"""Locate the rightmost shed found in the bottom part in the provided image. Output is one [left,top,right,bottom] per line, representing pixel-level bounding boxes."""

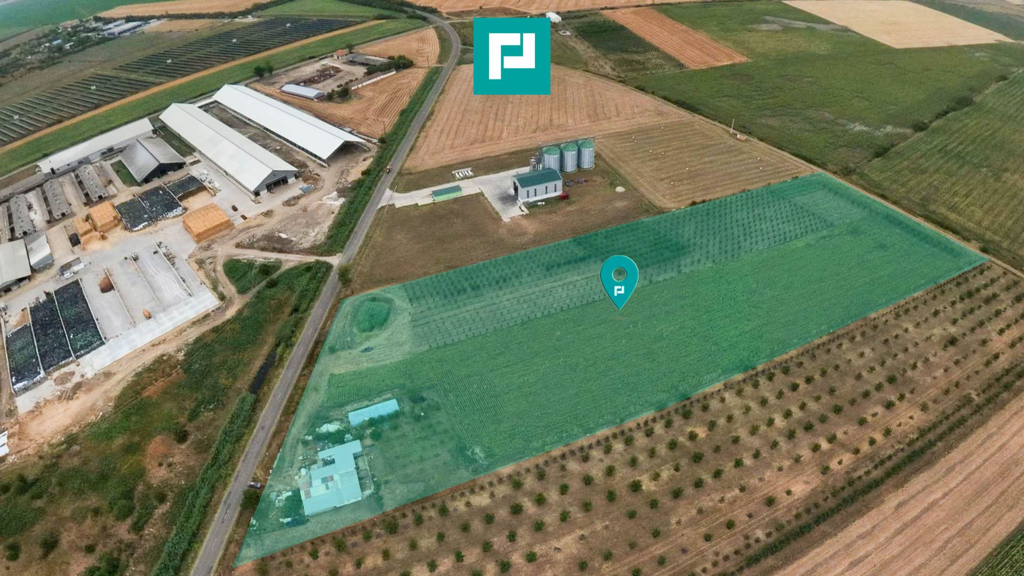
[349,399,399,428]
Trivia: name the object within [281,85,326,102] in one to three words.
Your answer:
shed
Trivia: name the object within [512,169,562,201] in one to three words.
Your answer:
building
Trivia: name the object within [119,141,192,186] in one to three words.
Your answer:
barn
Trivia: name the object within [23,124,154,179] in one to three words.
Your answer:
building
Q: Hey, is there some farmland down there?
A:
Yes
